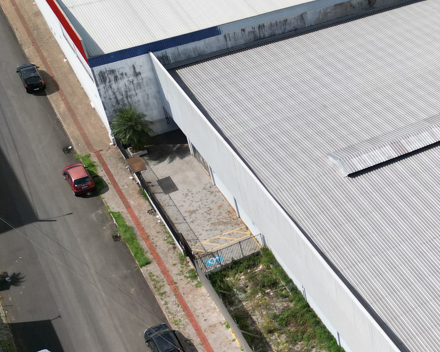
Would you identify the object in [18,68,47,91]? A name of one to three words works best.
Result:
car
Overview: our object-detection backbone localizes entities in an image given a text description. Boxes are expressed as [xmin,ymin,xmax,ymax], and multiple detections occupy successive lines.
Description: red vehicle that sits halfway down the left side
[61,163,95,195]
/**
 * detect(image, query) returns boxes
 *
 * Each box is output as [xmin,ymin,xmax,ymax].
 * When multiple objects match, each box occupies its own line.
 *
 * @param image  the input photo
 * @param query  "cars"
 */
[143,326,182,352]
[61,163,95,195]
[18,68,47,91]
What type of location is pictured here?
industrial area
